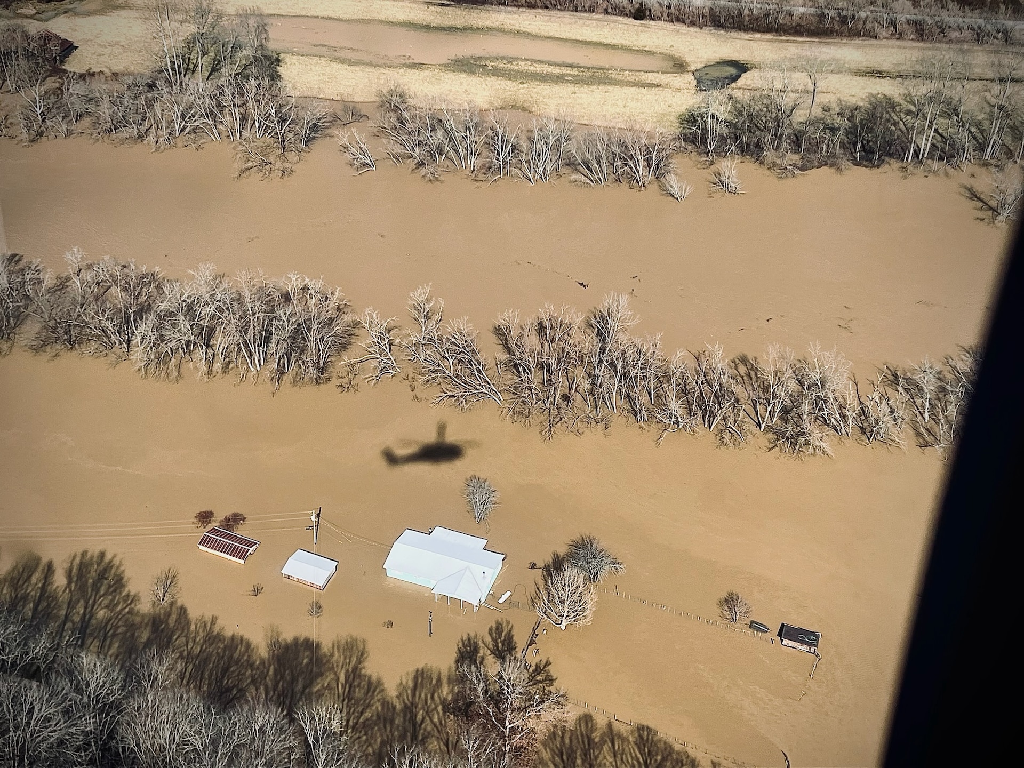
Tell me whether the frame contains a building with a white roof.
Yes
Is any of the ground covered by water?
Yes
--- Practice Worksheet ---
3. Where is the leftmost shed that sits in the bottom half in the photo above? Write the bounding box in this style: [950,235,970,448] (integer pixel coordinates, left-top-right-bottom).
[196,527,262,564]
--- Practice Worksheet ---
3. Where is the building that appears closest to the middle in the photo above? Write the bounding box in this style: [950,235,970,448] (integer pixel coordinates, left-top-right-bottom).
[382,526,505,612]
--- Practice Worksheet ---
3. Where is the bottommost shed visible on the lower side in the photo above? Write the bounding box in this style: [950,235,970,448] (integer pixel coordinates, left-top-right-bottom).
[782,622,822,654]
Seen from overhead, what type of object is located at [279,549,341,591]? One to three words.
shed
